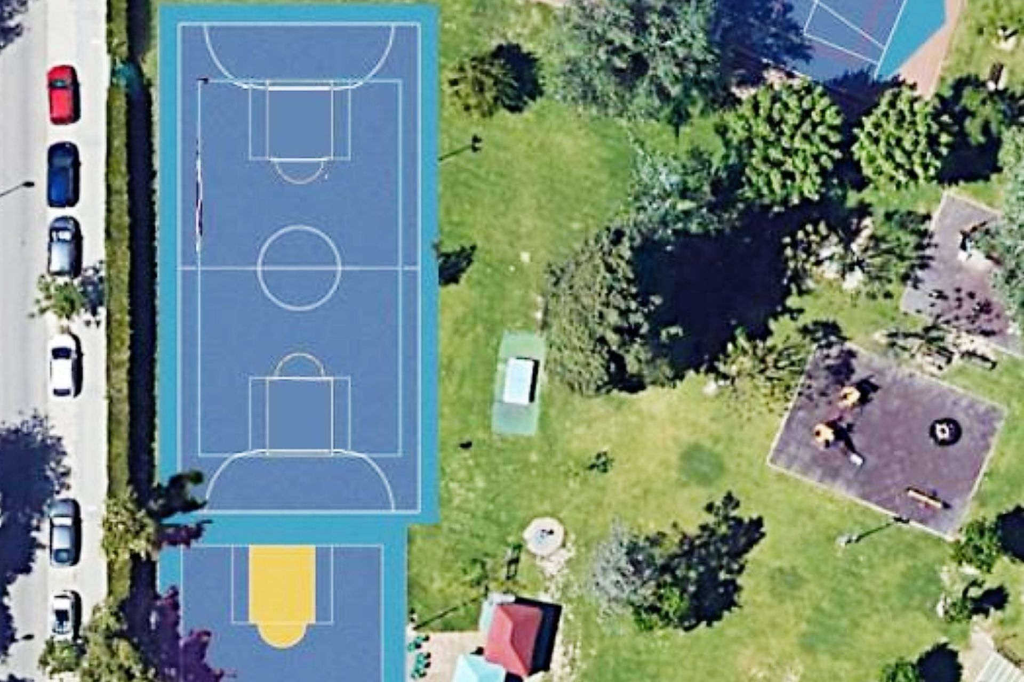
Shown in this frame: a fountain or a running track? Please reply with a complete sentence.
Of the two, only a fountain appears.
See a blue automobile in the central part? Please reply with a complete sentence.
No, the scene shows no blue automobile in the central part.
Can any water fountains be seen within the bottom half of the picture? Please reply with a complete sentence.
Yes, the scene does show a water fountain within the bottom half of the picture.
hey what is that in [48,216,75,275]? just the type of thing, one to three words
car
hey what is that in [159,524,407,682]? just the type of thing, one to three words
sports court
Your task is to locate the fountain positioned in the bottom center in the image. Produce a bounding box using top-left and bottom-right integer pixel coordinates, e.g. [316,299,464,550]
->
[524,517,564,557]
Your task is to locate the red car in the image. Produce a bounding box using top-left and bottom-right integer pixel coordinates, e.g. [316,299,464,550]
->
[46,64,74,124]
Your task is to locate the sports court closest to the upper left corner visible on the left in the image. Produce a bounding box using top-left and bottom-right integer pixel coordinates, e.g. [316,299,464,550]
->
[158,5,439,524]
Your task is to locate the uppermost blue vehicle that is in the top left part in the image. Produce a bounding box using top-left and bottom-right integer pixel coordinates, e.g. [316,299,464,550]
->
[47,142,75,206]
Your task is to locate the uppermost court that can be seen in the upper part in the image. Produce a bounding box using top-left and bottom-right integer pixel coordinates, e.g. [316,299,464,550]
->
[706,0,945,86]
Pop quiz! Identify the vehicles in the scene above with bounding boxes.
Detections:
[48,500,76,566]
[48,216,75,275]
[47,142,75,206]
[48,335,76,397]
[50,589,77,645]
[46,64,74,124]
